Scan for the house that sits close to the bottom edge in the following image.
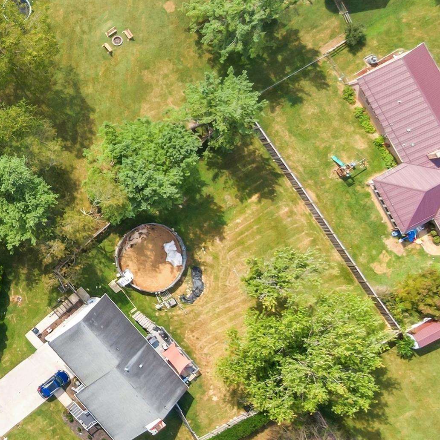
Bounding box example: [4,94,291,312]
[46,294,188,440]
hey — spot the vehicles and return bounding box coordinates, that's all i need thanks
[37,370,71,400]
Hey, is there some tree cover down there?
Yes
